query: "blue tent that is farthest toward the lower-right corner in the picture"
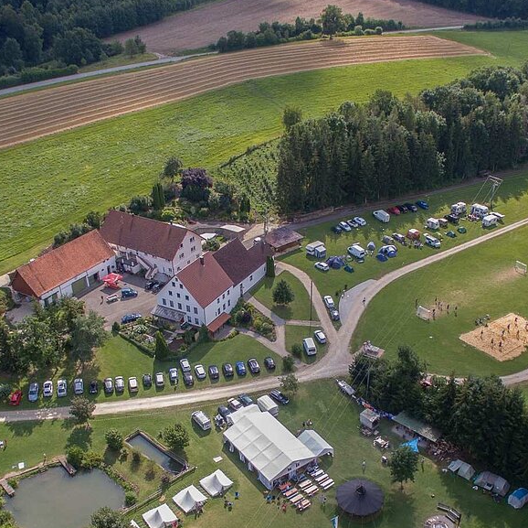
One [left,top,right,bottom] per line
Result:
[504,487,528,511]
